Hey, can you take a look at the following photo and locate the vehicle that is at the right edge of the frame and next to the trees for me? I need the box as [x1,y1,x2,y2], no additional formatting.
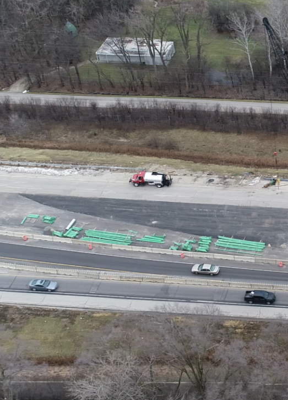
[242,288,278,305]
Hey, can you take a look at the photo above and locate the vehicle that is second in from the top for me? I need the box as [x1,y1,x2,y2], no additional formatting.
[191,264,220,276]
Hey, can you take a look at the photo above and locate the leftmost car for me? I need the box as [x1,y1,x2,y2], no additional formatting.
[26,279,58,293]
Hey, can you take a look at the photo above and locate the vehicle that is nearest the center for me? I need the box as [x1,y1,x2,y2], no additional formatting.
[130,171,173,187]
